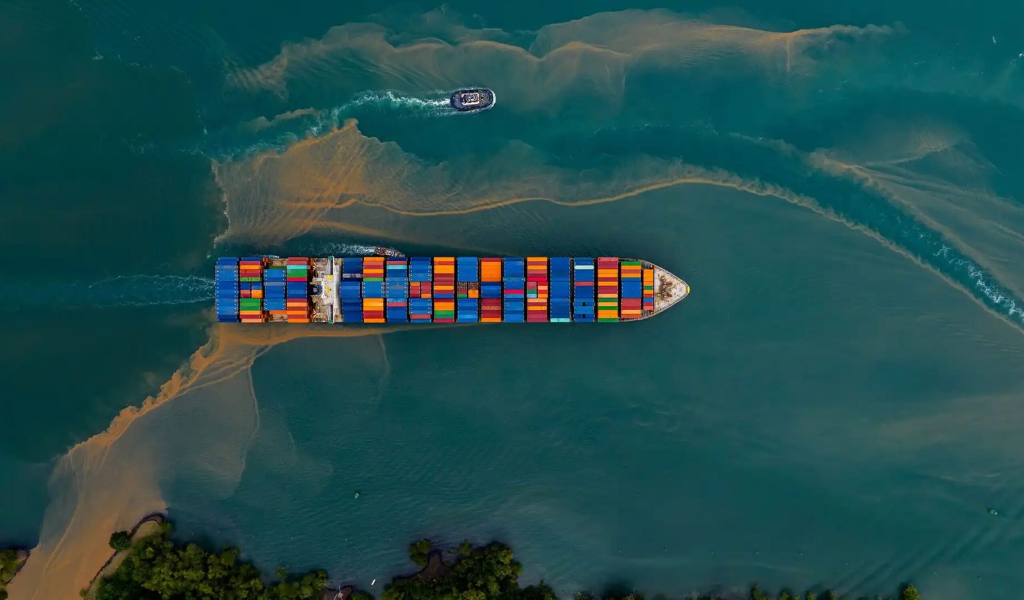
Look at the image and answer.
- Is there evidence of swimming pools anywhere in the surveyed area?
No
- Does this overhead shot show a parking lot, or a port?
port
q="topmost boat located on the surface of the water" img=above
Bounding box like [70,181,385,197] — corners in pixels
[450,89,495,112]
